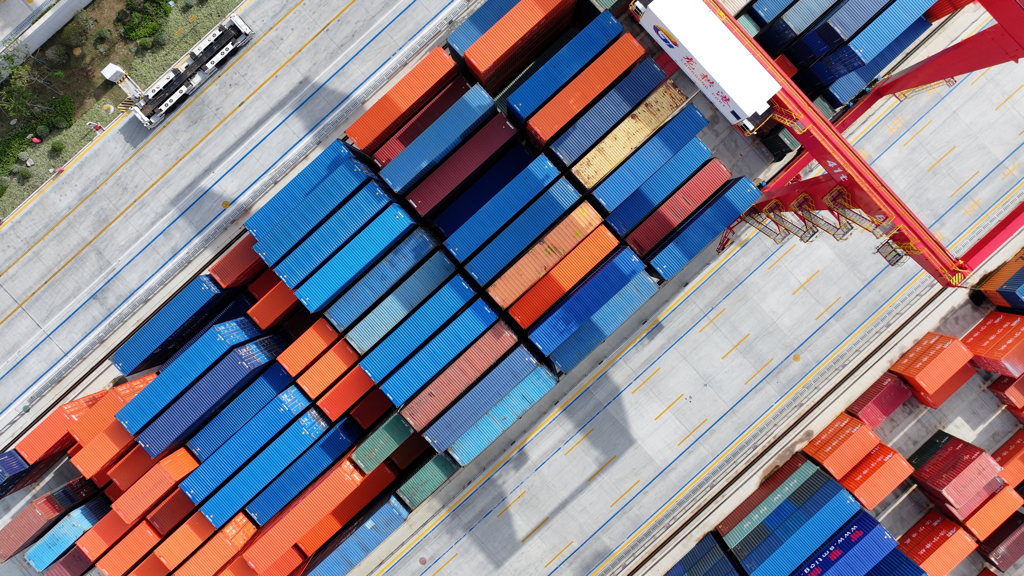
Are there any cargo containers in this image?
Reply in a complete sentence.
Yes, there's a cargo container here.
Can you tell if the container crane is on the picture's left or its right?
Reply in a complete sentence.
The container crane sits on the right side.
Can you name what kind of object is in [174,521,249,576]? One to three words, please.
shipping container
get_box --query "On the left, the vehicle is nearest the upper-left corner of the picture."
[130,12,258,131]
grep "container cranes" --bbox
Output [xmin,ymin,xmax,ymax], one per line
[617,0,1024,293]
